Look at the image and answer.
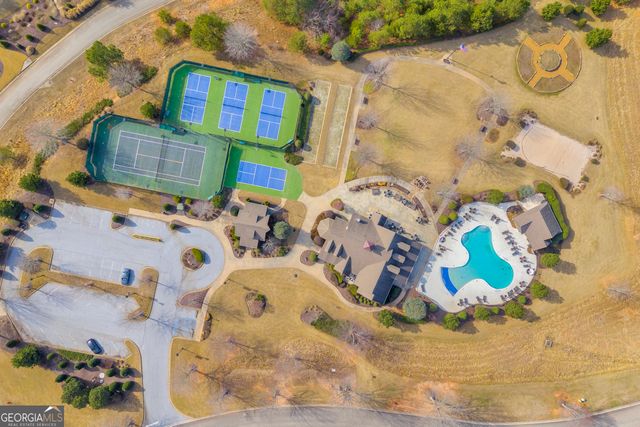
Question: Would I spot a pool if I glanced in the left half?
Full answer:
No, no pool is visible in the left half.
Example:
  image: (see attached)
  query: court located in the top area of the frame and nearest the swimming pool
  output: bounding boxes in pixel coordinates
[511,124,589,184]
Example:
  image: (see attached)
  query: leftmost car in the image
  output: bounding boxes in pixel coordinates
[86,339,101,355]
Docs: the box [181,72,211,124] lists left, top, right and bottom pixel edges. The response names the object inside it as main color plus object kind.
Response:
blue sports court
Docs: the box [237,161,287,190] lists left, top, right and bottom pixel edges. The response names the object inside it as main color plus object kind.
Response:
blue sports court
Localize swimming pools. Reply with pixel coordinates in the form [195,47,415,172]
[416,201,538,312]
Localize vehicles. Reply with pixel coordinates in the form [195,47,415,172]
[86,339,101,355]
[119,268,129,286]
